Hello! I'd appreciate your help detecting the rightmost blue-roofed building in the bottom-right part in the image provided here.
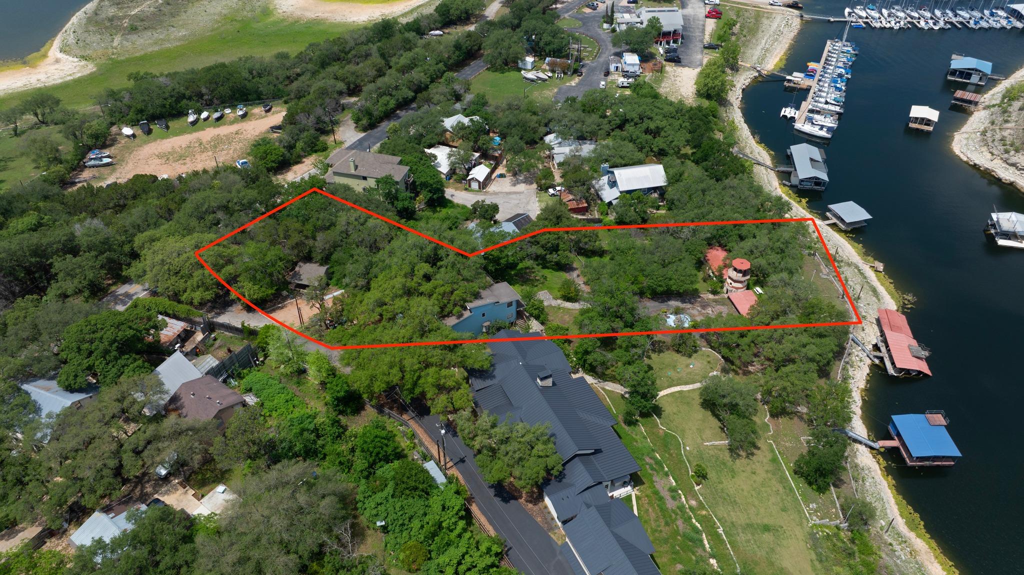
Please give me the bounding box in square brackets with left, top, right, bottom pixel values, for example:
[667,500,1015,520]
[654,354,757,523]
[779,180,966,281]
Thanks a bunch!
[878,410,961,466]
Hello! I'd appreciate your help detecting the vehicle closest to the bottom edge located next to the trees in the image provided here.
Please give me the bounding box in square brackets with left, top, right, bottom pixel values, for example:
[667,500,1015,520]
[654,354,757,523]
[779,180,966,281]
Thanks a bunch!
[142,484,173,513]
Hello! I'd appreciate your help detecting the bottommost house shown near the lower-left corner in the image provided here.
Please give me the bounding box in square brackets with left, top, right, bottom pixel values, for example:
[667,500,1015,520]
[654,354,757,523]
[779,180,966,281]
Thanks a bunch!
[70,495,149,552]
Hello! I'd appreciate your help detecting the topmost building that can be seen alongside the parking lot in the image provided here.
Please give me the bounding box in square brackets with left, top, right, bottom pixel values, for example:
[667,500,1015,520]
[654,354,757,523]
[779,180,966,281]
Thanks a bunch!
[610,7,684,47]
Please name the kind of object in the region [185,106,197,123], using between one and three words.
boat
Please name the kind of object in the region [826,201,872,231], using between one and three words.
building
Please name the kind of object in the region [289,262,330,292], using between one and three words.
shed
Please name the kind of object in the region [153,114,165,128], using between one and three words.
boat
